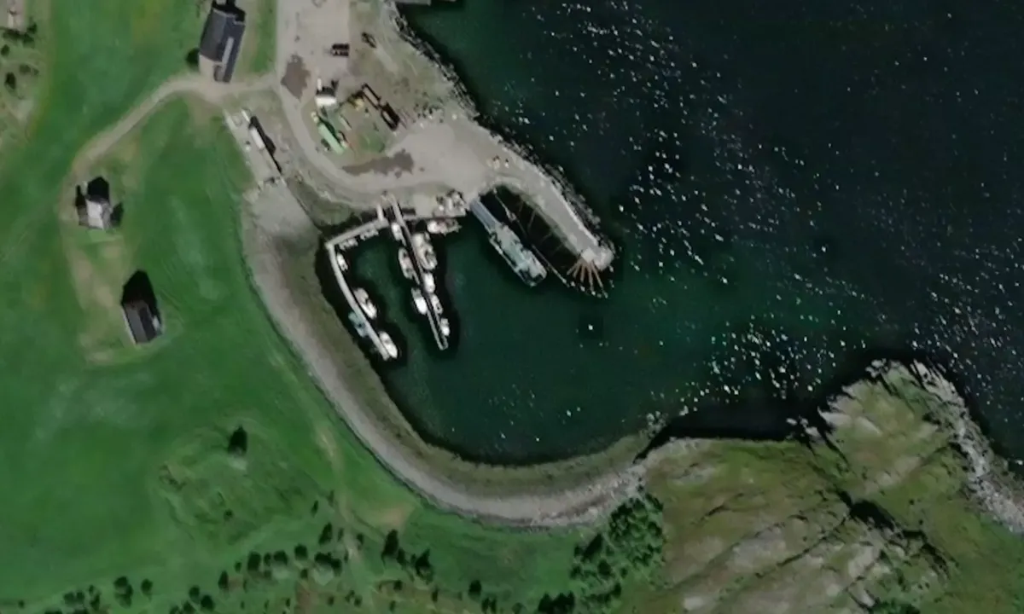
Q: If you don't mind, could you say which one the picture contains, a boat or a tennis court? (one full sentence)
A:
The one in the frame is a boat.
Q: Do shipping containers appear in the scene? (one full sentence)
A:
Yes, the photo shows a shipping container.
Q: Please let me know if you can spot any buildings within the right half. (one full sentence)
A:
No, looking within the right half, there is no building.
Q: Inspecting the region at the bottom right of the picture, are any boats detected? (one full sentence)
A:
No, there's no boat to be seen at the bottom right of the picture.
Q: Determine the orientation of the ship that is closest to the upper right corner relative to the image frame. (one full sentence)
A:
Seen from above, the ship that is closest to the upper right corner lies diagonally.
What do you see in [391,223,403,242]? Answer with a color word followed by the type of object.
white boat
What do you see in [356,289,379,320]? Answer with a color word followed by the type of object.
white boat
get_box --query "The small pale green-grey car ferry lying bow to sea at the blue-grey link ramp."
[489,220,543,283]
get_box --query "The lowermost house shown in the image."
[123,295,163,345]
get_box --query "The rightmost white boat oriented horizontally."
[427,220,459,233]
